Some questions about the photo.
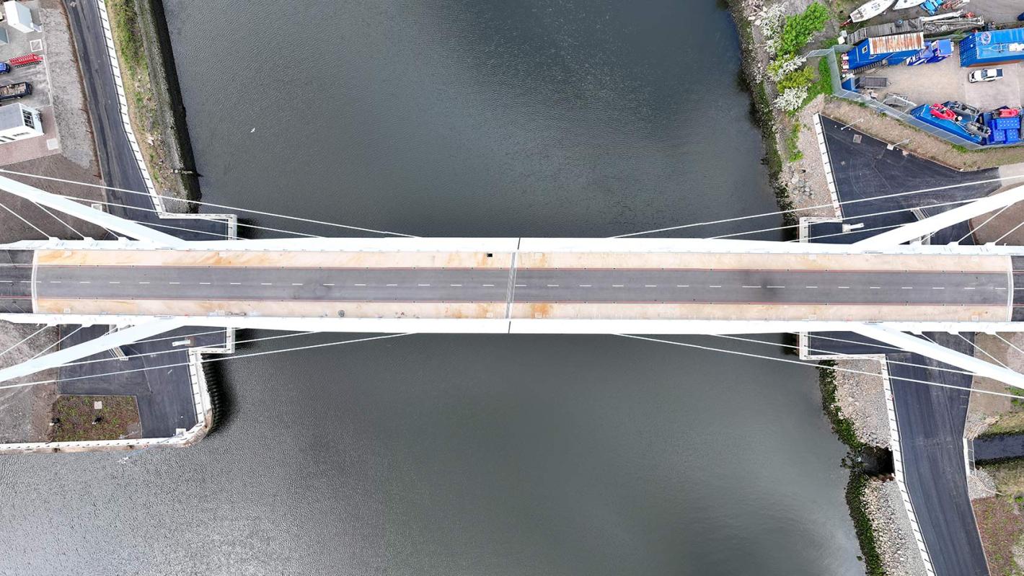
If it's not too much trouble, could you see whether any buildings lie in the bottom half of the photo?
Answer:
No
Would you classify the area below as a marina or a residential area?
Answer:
marina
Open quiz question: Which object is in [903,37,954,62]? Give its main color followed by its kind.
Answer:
blue truck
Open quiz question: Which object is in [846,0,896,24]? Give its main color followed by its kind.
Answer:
white boat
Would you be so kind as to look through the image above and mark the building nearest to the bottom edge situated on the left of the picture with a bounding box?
[0,104,43,143]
